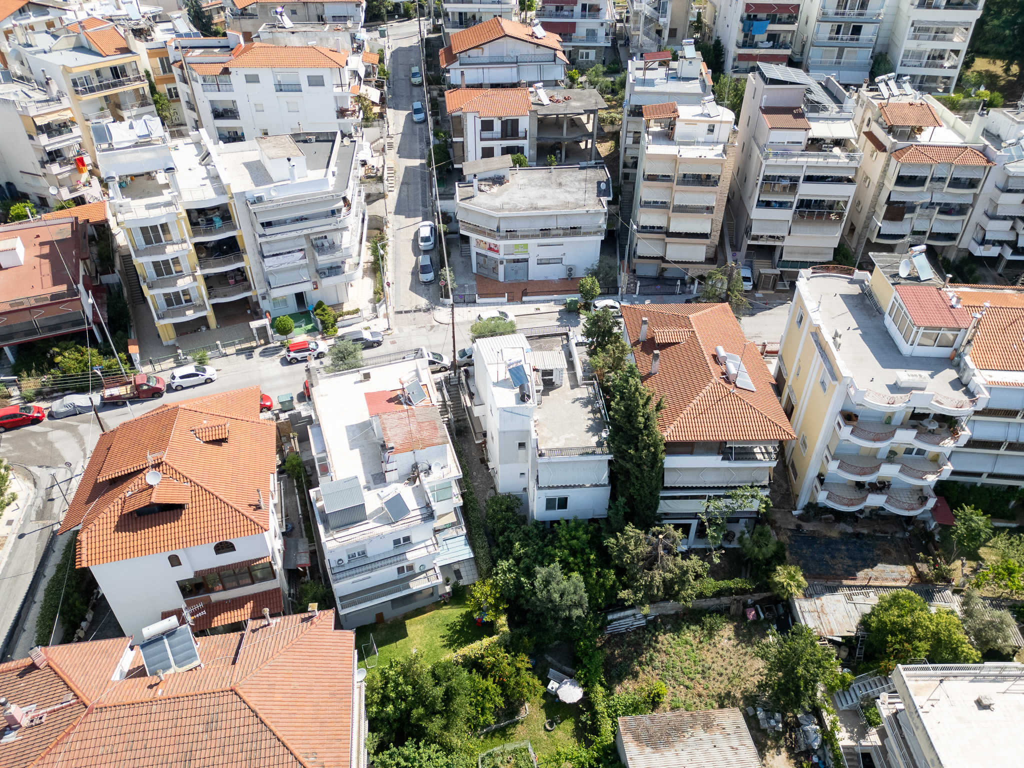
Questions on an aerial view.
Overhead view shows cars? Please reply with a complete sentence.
Yes, I can see a car in this picture.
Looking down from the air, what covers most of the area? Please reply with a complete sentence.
What you mostly see from above here is buildings.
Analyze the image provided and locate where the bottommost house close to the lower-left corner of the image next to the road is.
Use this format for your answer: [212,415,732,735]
[0,606,368,768]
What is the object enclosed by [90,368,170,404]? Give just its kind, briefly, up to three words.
truck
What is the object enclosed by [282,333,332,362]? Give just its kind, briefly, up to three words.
car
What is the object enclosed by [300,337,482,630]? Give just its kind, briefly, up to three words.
house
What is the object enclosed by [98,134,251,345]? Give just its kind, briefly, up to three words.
building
